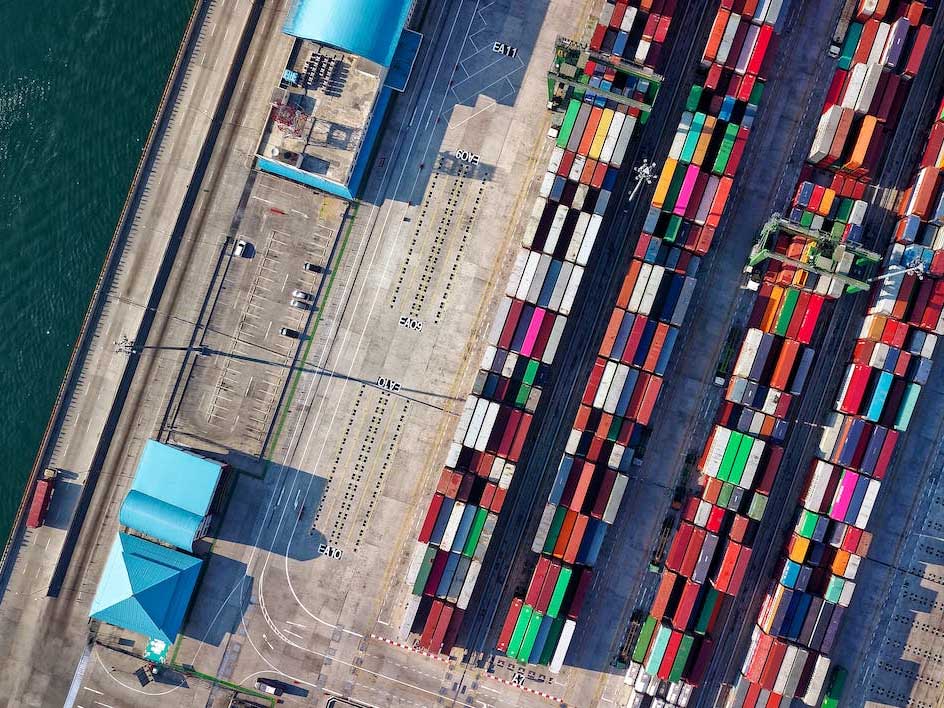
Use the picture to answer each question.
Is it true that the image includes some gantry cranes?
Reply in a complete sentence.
Yes, you can see a gantry crane in this photo.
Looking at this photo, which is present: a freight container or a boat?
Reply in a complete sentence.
It is a freight container that can be seen here.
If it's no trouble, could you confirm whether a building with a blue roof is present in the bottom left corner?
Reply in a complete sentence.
Yes, a building with a blue roof can be seen in the bottom left corner.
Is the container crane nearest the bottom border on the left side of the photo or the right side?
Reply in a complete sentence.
The container crane nearest the bottom border appears in the right half of the scene.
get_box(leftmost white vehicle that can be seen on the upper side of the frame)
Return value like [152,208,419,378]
[231,238,246,259]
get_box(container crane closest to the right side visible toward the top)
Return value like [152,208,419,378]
[738,214,890,304]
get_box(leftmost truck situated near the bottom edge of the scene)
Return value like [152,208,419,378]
[255,675,287,696]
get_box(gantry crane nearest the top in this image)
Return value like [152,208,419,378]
[543,37,667,145]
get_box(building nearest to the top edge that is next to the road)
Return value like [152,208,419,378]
[281,0,429,99]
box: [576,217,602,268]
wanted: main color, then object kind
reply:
white shipping container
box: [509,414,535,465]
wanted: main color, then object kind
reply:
red shipping container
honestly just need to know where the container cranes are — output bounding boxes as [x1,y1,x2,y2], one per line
[543,37,667,145]
[738,214,890,304]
